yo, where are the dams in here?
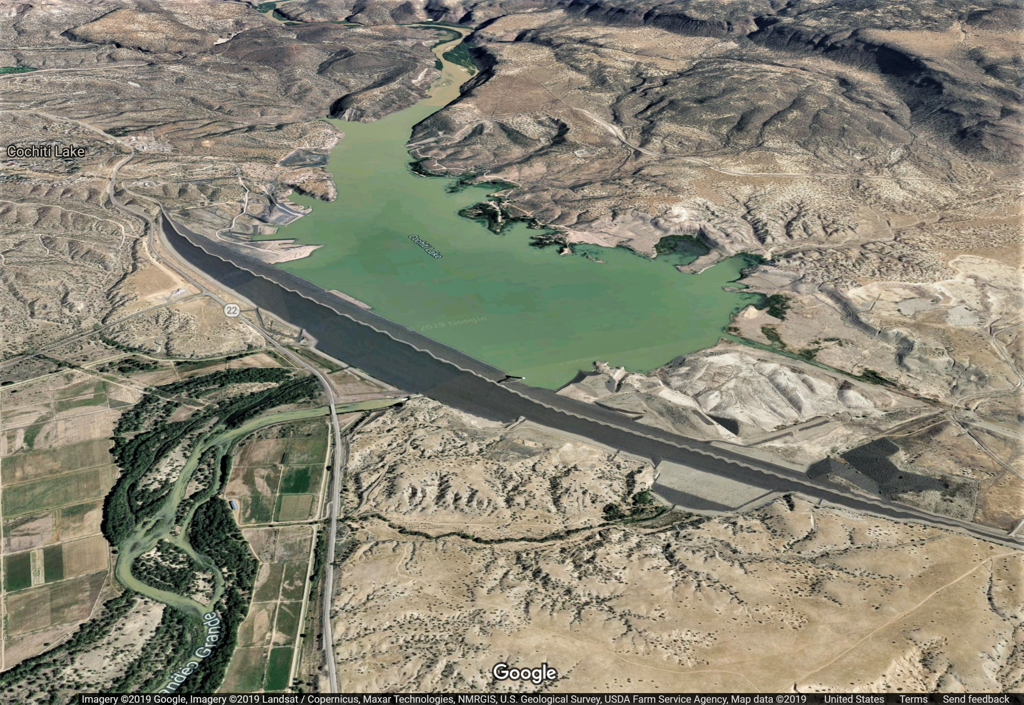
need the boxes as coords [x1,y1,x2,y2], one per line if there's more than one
[158,204,1024,556]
